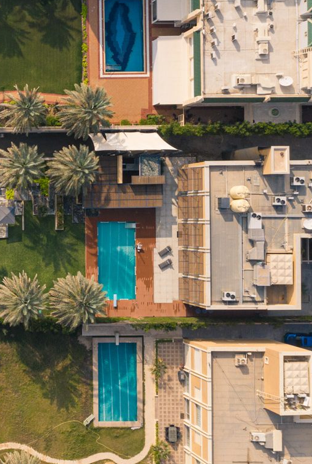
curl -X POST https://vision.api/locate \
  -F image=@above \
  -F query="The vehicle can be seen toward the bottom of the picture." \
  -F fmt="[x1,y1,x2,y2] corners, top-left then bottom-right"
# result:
[284,333,312,347]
